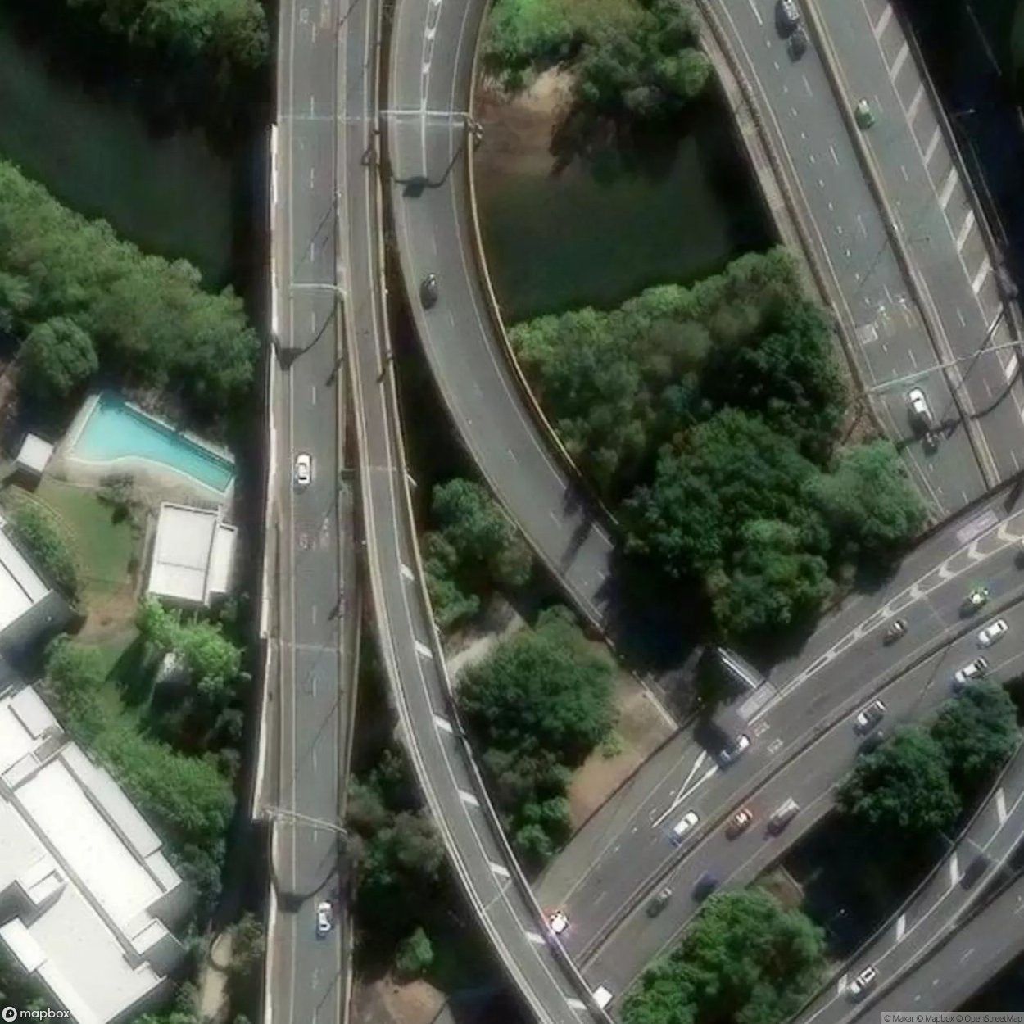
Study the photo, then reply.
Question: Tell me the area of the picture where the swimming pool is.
left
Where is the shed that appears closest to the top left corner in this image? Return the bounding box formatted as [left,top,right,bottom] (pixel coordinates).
[17,433,57,475]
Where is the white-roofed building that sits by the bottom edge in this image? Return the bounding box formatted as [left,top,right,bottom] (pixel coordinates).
[0,686,209,1024]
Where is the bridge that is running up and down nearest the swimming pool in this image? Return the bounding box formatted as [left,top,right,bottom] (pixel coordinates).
[265,0,369,1024]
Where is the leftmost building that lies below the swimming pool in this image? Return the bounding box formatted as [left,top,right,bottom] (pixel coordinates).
[0,518,78,672]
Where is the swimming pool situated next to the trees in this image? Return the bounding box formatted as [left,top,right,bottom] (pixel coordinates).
[51,389,240,524]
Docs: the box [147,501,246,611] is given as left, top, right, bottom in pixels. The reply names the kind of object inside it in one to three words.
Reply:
building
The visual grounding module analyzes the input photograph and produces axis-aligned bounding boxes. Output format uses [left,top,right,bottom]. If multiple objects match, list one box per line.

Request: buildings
[0,686,209,1024]
[147,501,246,611]
[17,433,57,475]
[0,518,78,672]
